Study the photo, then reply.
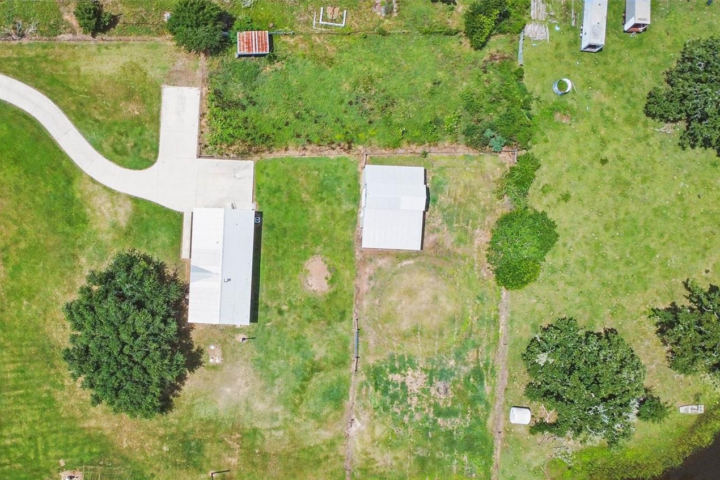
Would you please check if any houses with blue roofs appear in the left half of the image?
No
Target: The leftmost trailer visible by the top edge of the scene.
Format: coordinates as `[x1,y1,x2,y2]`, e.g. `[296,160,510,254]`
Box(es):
[578,0,608,52]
